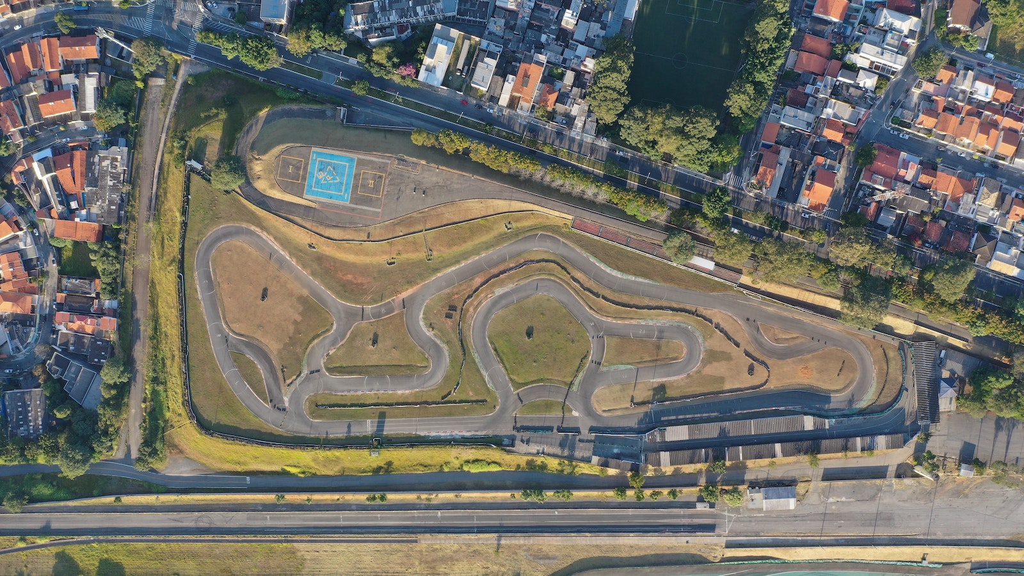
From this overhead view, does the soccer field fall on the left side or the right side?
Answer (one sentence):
The soccer field appears in the right half of the scene.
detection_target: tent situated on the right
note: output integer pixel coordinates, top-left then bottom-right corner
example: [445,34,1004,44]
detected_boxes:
[939,376,960,398]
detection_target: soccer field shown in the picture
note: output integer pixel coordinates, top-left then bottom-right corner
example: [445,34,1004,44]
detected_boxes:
[629,0,757,125]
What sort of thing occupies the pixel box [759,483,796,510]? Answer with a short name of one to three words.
house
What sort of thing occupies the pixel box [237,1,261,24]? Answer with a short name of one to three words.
house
